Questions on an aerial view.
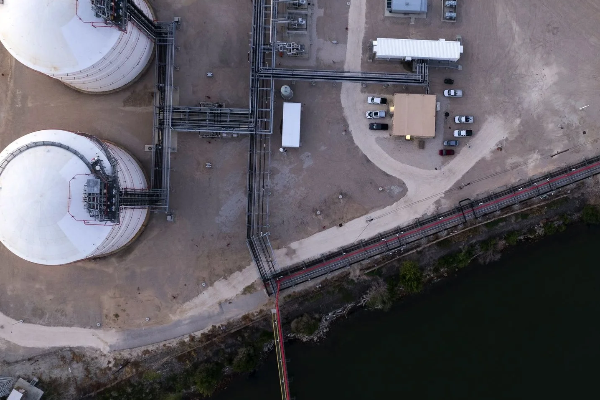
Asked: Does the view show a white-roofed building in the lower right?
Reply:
No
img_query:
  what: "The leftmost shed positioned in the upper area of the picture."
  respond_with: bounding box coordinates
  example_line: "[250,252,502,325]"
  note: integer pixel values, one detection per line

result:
[282,102,303,148]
